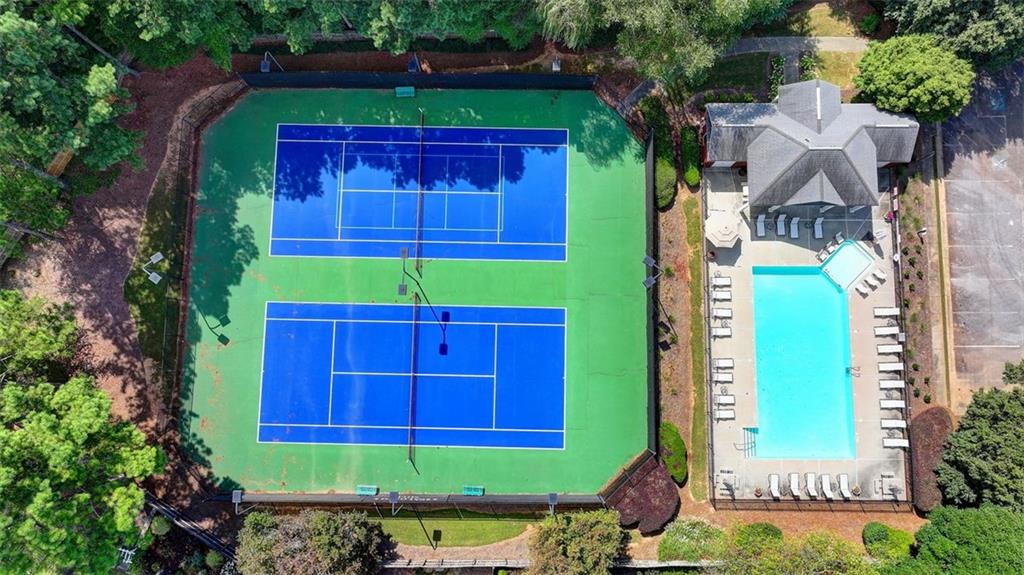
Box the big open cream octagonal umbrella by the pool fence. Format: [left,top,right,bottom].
[705,213,740,247]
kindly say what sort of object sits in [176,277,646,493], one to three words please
tennis court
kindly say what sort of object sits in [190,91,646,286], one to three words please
tennis court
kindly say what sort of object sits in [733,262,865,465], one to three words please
swimming pool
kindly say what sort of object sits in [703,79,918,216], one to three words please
building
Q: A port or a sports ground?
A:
sports ground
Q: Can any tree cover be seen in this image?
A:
Yes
